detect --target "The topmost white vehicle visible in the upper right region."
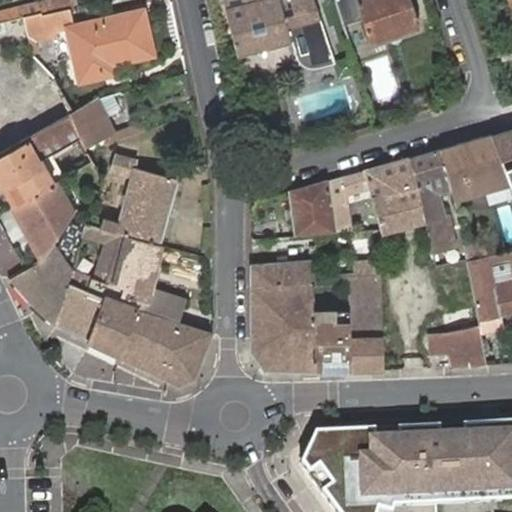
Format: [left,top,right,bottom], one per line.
[444,17,457,38]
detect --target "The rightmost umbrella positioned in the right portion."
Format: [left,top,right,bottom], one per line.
[446,250,460,264]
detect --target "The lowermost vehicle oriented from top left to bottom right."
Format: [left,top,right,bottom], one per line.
[276,478,294,498]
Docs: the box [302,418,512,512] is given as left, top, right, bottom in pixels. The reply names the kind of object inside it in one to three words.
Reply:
building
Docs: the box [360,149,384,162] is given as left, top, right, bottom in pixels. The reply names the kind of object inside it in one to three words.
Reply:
vehicle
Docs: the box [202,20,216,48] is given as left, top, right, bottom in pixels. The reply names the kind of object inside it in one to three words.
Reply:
vehicle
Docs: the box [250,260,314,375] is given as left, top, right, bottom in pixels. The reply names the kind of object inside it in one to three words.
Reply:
house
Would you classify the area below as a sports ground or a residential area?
residential area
